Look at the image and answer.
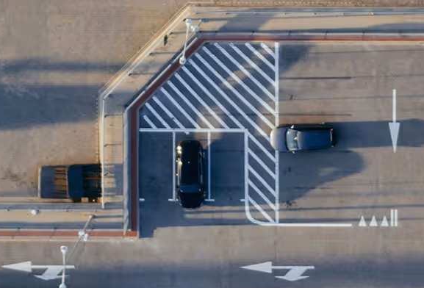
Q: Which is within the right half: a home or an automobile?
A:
automobile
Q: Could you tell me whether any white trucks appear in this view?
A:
No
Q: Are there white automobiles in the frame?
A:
No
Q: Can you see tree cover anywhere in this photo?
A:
No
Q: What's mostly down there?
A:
paved ground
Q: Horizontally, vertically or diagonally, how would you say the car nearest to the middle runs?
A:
vertically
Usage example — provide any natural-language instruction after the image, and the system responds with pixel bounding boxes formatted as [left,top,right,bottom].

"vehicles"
[272,124,337,156]
[37,163,105,203]
[175,138,208,208]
